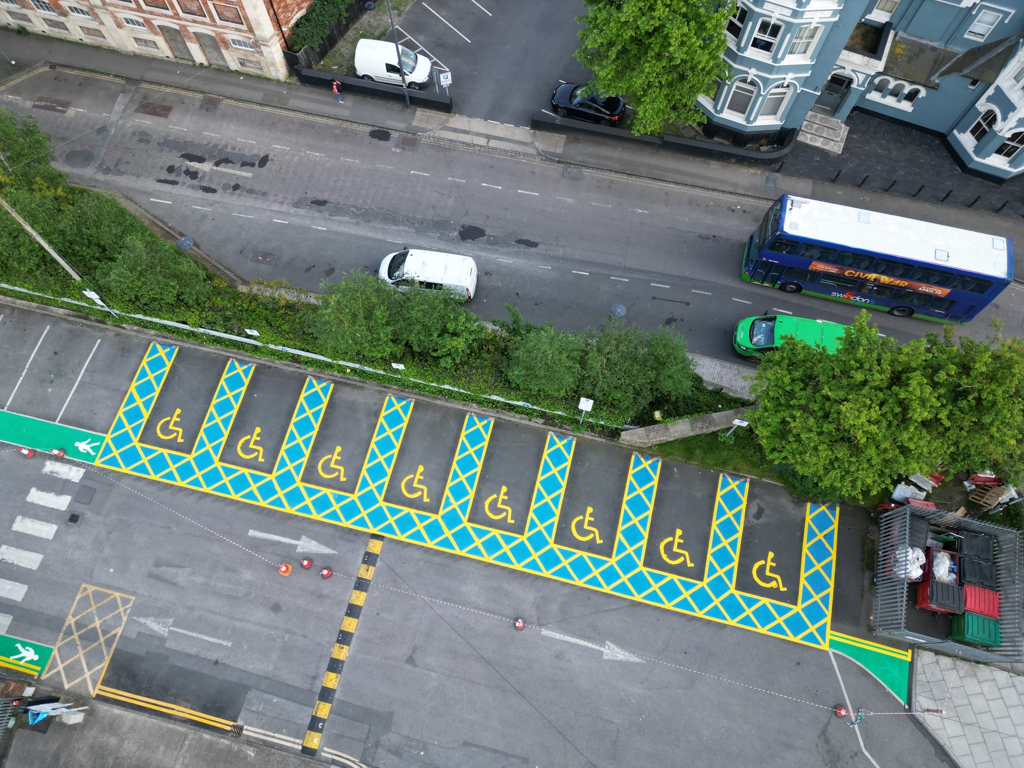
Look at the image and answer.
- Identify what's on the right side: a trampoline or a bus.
bus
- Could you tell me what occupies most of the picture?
paved ground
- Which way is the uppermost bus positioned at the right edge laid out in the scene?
from left to right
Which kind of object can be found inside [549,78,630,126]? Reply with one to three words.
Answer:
car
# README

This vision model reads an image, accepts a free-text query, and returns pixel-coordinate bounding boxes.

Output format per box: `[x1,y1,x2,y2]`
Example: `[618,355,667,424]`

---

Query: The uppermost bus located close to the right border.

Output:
[743,196,1014,323]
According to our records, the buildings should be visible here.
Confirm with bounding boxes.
[0,0,332,85]
[675,0,1024,153]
